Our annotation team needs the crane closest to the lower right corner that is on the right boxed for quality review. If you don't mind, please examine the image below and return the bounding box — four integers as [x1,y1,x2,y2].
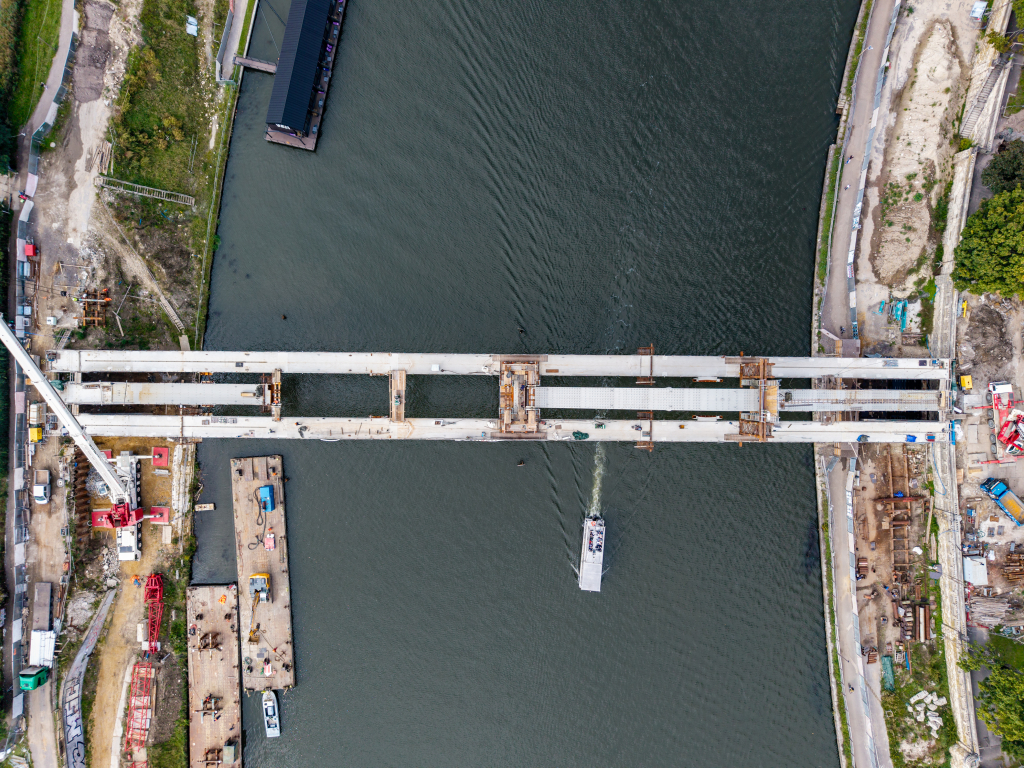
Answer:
[963,373,1024,462]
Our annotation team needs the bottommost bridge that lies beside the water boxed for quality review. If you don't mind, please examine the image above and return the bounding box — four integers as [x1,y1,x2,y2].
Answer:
[48,350,948,443]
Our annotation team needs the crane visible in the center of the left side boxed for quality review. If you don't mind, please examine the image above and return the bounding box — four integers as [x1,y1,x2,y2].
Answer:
[0,309,172,562]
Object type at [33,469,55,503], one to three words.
truck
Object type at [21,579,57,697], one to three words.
truck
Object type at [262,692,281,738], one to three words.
boat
